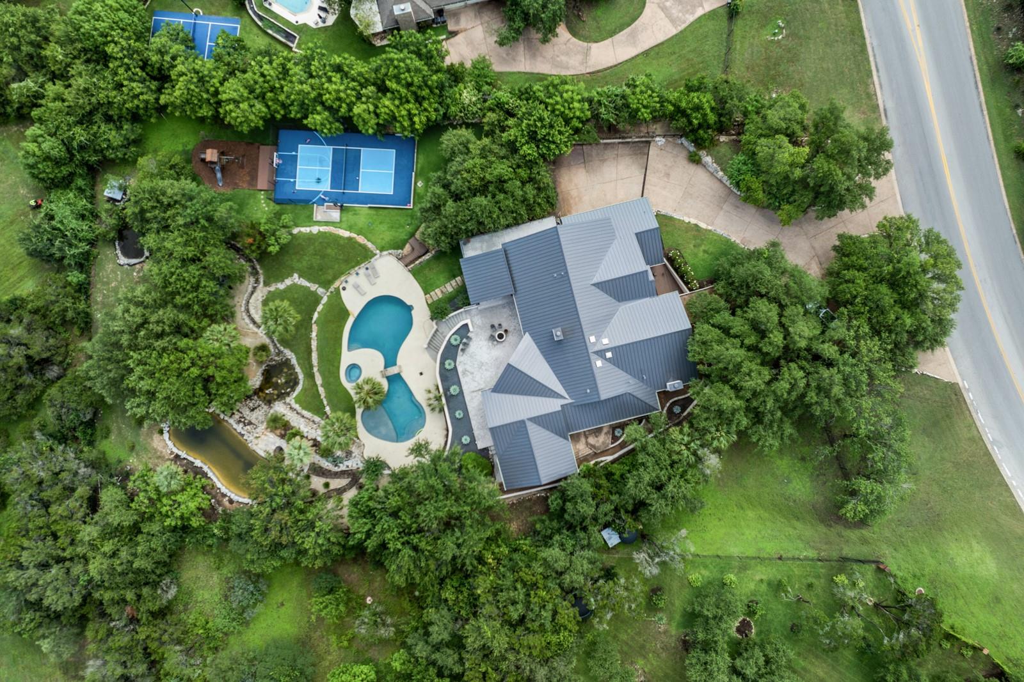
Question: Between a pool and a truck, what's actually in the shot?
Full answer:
I can see a pool in this picture.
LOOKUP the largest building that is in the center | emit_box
[460,196,699,491]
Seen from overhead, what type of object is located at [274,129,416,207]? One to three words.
sports court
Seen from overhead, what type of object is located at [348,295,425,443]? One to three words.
swimming pool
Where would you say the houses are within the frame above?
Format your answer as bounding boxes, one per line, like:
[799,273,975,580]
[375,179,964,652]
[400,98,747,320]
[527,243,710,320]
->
[460,196,699,491]
[350,0,507,44]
